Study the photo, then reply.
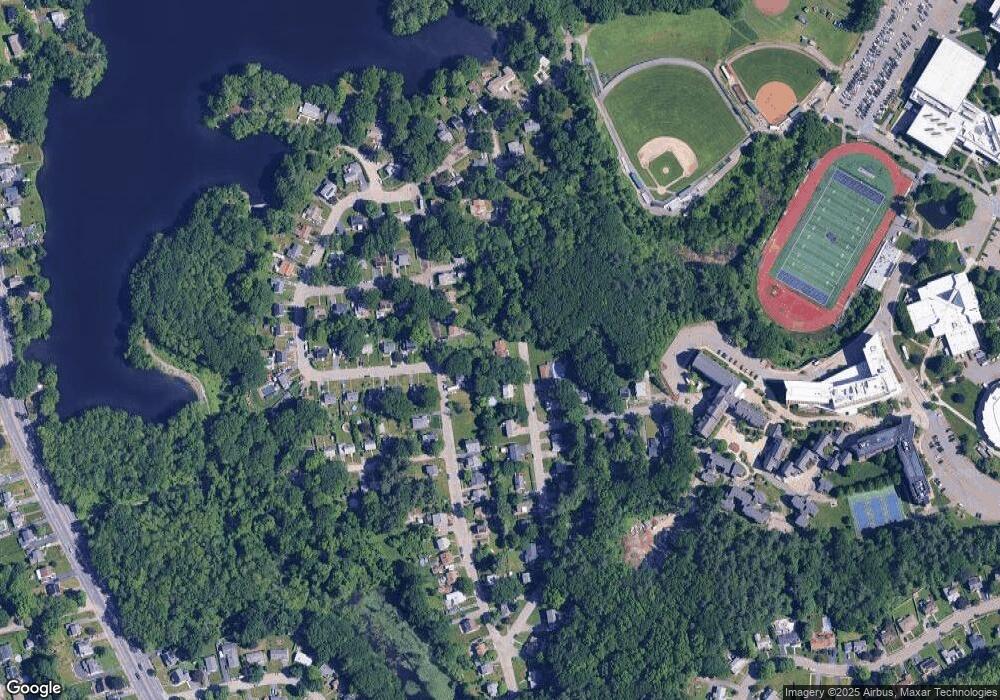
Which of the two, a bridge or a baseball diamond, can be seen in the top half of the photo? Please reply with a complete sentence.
It is a baseball diamond that can be seen in the top half of the photo.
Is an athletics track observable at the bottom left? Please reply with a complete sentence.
No, there is no athletics track at the bottom left.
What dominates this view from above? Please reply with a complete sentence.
The bulk of the photo consists of trees.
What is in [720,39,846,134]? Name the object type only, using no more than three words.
baseball field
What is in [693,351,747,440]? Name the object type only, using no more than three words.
building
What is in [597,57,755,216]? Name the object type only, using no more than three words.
baseball field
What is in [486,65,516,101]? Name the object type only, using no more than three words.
house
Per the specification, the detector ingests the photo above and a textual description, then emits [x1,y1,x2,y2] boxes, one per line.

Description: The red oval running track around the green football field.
[757,145,915,330]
